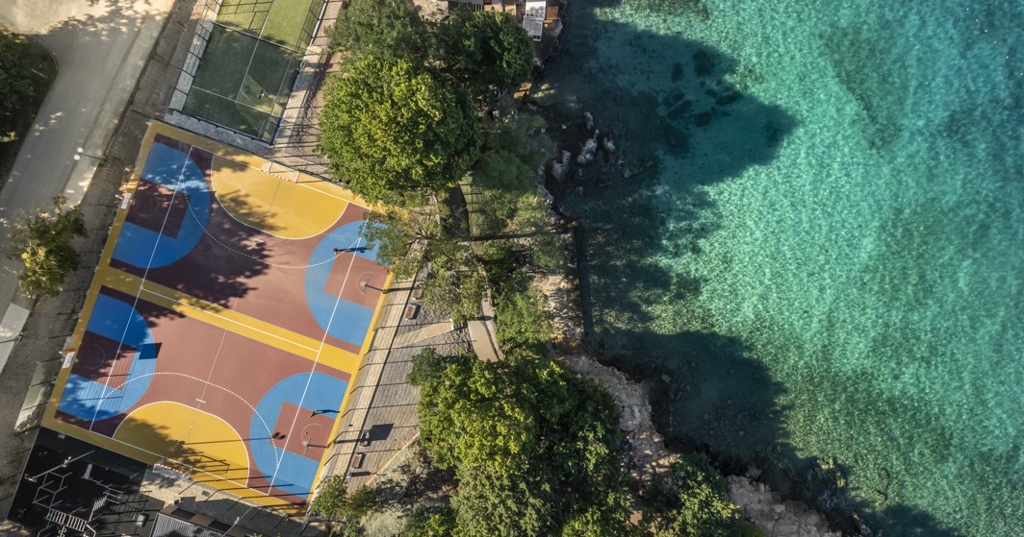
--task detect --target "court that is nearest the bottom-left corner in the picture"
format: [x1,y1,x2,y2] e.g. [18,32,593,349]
[41,119,417,522]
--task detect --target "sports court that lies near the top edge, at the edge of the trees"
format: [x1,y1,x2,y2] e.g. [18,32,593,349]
[162,0,322,145]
